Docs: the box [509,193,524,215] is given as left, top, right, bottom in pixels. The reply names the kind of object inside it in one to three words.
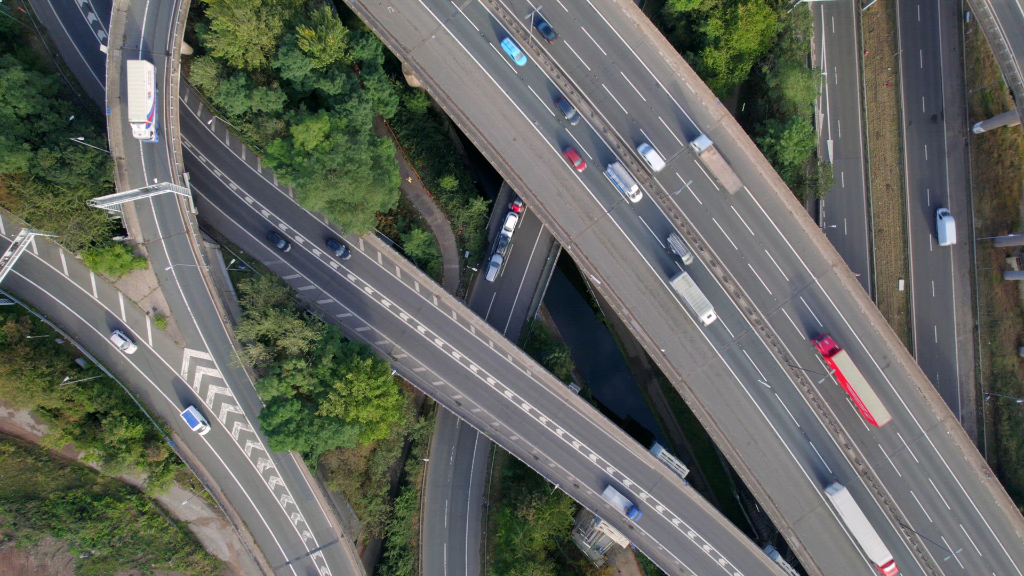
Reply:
car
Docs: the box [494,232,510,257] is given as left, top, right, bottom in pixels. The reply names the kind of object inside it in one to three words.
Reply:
car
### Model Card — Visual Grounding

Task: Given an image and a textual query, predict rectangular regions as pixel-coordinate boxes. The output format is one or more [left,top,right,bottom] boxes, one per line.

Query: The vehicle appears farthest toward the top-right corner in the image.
[934,209,956,244]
